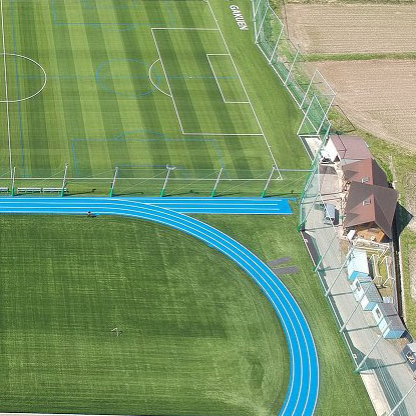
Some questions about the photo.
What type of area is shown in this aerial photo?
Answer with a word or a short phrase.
sports ground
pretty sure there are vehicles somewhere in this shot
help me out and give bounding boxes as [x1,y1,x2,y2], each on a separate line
[324,205,340,225]
[317,150,331,168]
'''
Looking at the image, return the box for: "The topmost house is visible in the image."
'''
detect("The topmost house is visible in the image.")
[324,135,372,175]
